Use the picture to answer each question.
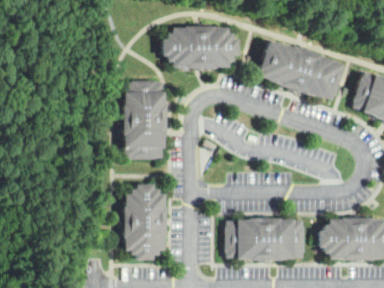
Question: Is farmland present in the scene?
No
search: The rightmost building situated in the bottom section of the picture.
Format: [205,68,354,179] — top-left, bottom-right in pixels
[318,218,384,260]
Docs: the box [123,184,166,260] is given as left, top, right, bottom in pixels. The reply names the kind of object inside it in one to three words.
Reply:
building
